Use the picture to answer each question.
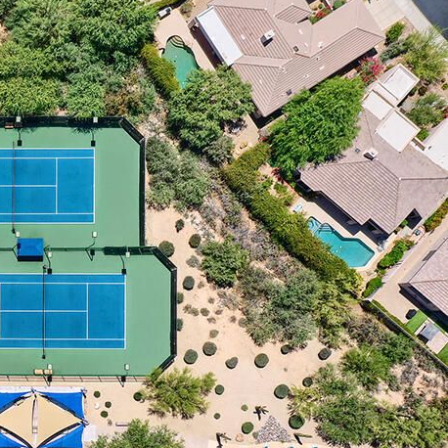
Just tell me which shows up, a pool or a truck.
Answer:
pool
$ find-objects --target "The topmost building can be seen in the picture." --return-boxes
[189,0,385,117]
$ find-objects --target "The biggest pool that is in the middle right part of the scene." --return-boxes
[308,213,378,270]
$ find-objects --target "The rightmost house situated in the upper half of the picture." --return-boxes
[293,63,448,233]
